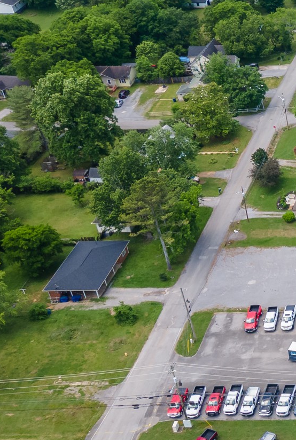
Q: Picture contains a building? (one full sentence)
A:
Yes, I can see a building in this picture.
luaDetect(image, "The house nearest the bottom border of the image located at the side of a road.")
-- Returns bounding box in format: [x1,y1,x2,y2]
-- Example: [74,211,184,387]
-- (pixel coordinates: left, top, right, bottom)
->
[50,287,169,310]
